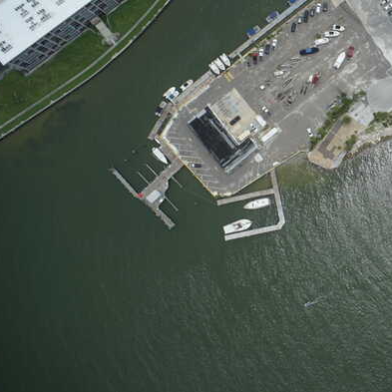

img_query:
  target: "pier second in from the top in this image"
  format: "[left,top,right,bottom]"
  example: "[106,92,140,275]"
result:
[147,69,216,138]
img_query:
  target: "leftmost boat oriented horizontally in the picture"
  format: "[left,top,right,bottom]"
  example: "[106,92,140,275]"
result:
[222,220,252,234]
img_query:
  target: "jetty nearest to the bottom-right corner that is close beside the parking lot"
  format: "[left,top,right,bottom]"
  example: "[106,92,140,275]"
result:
[217,167,286,241]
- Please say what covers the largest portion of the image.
water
